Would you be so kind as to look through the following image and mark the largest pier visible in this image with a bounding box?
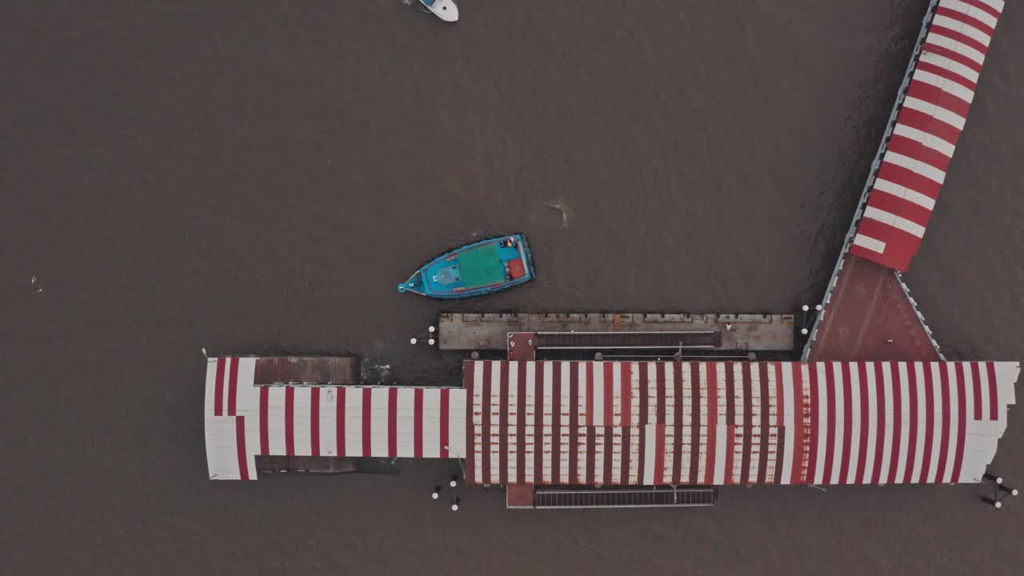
[438,311,794,350]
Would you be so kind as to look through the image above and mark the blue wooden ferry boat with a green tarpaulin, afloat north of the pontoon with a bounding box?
[398,233,536,301]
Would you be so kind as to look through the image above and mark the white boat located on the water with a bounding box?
[419,0,459,22]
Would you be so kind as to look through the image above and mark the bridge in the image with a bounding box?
[794,0,967,362]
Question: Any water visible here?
Yes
